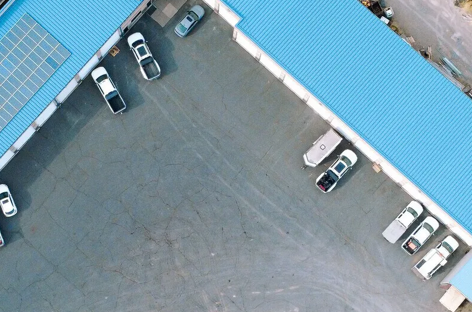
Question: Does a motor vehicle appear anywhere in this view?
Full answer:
Yes, the frame does contain a motor vehicle.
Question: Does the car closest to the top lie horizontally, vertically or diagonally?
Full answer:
The car closest to the top is laid out diagonally.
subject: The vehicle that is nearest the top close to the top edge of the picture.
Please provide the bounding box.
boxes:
[174,5,205,39]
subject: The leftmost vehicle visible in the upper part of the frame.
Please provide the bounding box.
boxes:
[92,67,125,117]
